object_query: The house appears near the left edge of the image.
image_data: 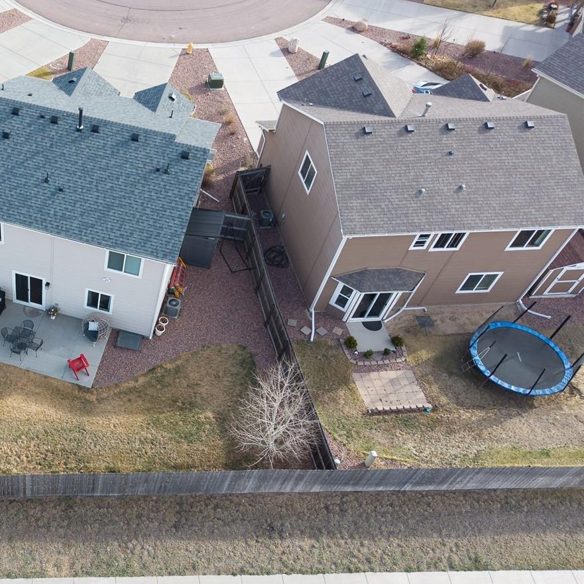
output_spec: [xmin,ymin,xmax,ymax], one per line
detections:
[0,65,226,339]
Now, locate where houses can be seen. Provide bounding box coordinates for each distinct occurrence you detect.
[0,65,226,339]
[245,53,584,333]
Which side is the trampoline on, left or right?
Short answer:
right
